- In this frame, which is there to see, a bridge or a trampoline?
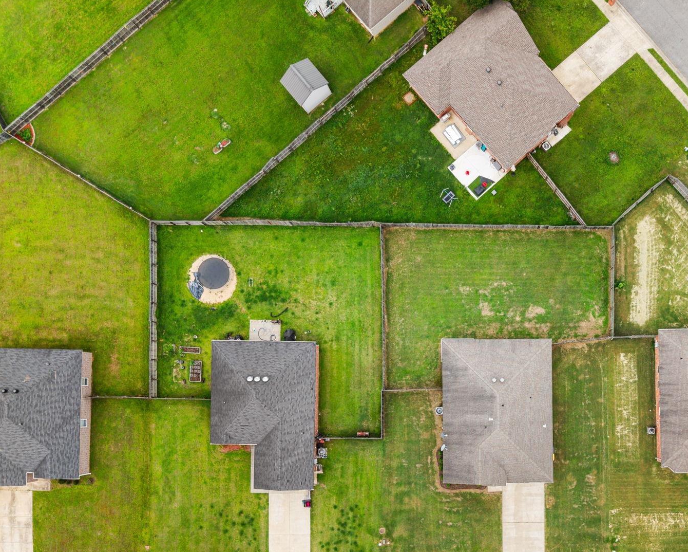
trampoline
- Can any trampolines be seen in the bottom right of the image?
No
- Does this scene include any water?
No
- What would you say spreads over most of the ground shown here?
grass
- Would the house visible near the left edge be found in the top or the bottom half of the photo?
bottom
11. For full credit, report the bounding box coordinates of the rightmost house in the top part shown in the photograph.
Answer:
[403,1,580,173]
